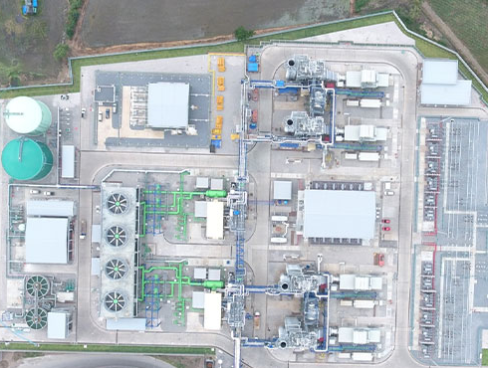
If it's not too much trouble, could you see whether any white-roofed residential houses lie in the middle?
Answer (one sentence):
Yes, looking in the middle, one can make out a white-roofed residential house.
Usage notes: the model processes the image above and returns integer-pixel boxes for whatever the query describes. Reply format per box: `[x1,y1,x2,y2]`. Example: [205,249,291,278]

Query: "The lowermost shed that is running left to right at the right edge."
[418,81,472,108]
